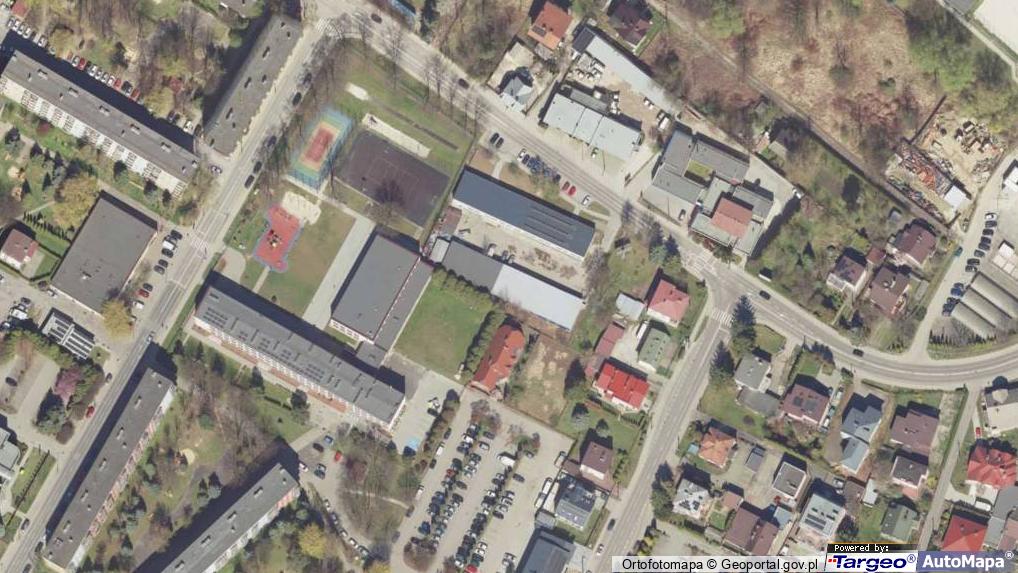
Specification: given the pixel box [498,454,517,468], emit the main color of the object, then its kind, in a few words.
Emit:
white vehicle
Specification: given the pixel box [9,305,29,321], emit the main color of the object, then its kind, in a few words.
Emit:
white vehicle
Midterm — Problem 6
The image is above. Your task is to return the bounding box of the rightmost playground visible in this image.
[254,205,303,272]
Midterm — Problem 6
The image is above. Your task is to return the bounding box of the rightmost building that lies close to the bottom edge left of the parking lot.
[165,464,300,573]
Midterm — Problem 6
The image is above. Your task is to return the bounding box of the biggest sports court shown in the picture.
[336,120,452,227]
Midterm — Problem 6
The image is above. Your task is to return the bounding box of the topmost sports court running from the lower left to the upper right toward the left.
[286,103,354,191]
